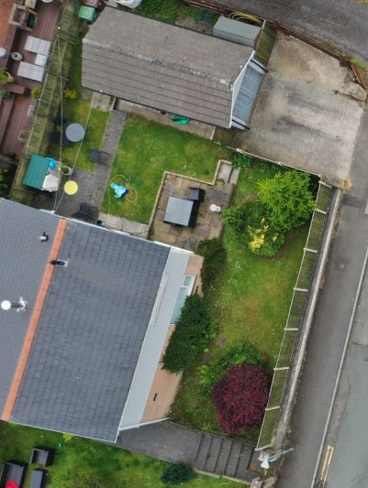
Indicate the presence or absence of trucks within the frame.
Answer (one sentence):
No, the picture doesn't show any truck.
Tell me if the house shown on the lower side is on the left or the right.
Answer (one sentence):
The house shown on the lower side sits on the left side.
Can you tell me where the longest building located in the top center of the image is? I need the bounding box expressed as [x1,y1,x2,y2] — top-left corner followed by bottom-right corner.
[80,6,269,136]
